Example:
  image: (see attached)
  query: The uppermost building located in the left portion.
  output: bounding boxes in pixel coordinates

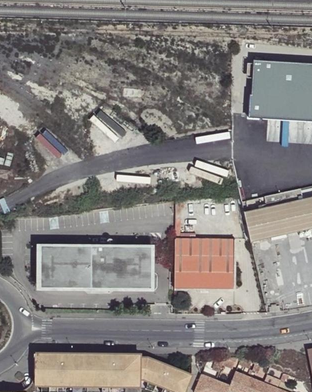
[36,244,155,290]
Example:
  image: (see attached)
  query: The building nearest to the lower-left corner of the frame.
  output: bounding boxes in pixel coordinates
[35,352,142,388]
